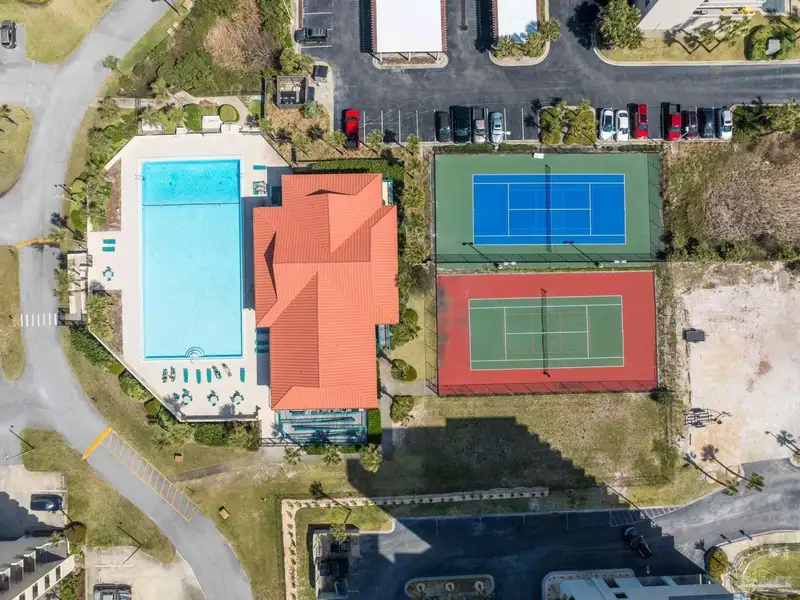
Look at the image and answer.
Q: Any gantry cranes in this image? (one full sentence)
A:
No, the picture doesn't show any gantry crane.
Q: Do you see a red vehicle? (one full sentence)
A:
Yes, the picture does show a red vehicle.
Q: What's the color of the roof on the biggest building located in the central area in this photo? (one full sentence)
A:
The roof of the biggest building located in the central area is red.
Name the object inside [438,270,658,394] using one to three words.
tennis court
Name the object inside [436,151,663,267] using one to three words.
tennis court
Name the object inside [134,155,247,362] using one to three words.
swimming pool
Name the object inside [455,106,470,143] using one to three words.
car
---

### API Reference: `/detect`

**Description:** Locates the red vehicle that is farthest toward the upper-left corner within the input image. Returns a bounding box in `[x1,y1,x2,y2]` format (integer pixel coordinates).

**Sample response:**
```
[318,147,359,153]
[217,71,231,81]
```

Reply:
[343,109,359,148]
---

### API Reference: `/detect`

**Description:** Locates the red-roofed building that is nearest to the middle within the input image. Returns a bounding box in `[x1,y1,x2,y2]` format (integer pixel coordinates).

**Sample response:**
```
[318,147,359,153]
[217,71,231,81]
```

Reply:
[253,173,398,410]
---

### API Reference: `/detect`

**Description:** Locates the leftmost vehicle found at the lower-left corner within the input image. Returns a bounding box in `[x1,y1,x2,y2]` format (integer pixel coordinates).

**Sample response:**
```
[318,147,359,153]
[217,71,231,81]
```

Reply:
[30,495,63,511]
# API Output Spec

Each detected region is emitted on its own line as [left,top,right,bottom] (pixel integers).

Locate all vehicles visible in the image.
[0,20,17,50]
[438,110,452,143]
[663,102,681,141]
[455,106,470,143]
[472,105,488,144]
[295,27,328,45]
[633,104,651,140]
[600,109,616,141]
[616,110,631,142]
[716,109,734,141]
[30,495,63,511]
[683,109,700,140]
[343,109,359,148]
[491,112,506,144]
[698,108,716,141]
[92,586,131,600]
